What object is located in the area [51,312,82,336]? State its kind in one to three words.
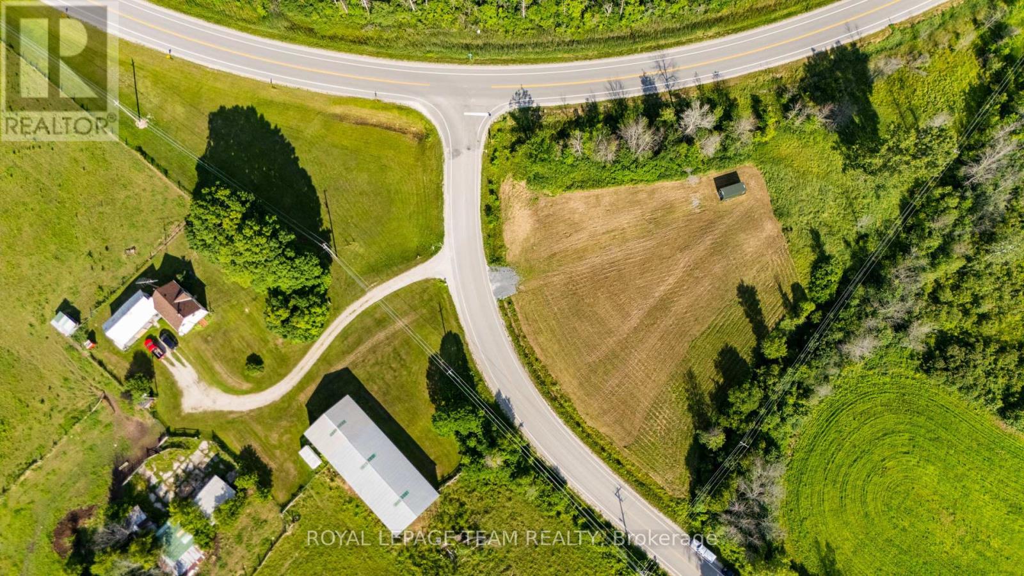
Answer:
shed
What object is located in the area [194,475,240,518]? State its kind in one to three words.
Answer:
shed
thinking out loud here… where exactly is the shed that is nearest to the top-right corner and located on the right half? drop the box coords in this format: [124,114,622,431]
[718,181,747,202]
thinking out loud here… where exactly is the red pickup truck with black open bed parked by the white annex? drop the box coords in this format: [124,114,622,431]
[143,337,166,362]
